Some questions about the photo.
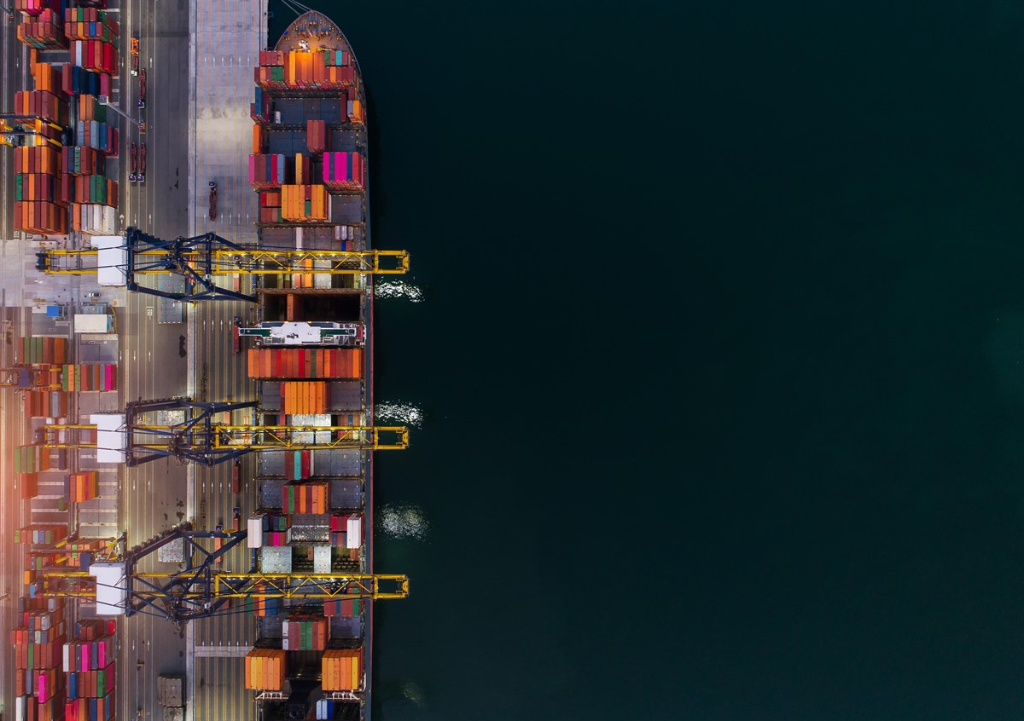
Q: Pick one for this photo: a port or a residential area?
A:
port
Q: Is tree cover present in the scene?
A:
No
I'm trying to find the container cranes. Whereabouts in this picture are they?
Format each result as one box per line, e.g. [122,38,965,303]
[36,516,410,626]
[41,537,120,570]
[36,221,410,312]
[0,114,44,150]
[0,366,51,393]
[36,391,410,468]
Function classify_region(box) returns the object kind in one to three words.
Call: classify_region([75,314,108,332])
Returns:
shed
